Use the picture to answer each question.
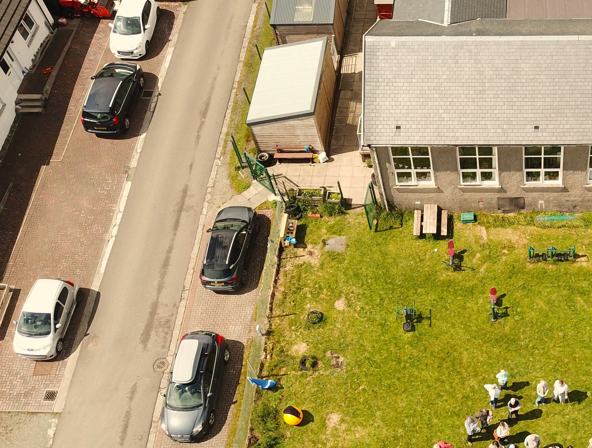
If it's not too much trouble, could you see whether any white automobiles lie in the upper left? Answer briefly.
Yes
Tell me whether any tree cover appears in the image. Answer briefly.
No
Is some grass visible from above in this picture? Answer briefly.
Yes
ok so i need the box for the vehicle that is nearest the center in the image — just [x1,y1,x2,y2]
[195,204,262,294]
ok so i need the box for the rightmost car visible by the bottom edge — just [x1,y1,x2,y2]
[156,330,232,441]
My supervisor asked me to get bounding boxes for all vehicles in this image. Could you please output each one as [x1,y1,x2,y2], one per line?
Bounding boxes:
[156,330,232,441]
[11,277,86,361]
[107,0,162,57]
[82,63,146,136]
[195,204,262,294]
